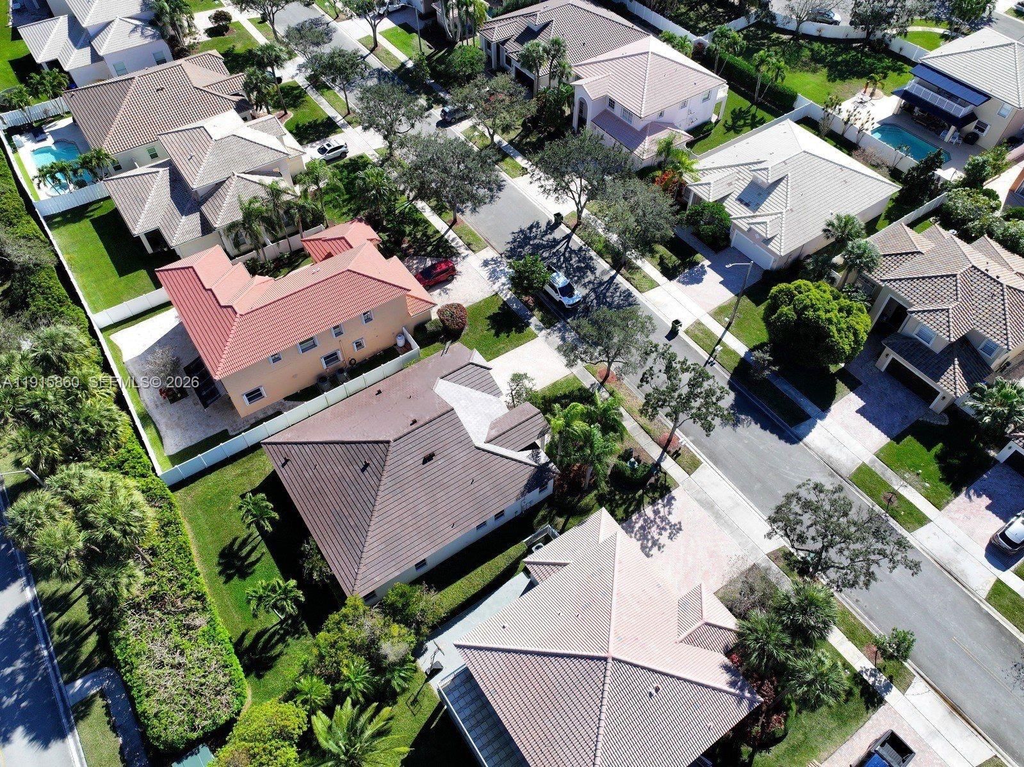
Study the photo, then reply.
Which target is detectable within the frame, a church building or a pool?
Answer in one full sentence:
Of the two, only a pool appears.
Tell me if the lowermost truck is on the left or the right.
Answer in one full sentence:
The lowermost truck is on the right side of the image.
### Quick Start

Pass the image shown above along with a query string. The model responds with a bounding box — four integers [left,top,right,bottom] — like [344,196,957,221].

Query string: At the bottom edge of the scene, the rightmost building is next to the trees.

[452,508,764,767]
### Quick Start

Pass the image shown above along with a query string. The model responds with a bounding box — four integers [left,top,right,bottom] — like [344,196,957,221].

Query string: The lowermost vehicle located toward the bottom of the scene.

[843,723,917,767]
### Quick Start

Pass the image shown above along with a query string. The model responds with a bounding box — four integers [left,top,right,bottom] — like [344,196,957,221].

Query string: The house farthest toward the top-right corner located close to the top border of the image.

[881,27,1024,154]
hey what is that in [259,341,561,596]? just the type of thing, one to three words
house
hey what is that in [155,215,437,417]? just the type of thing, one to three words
house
